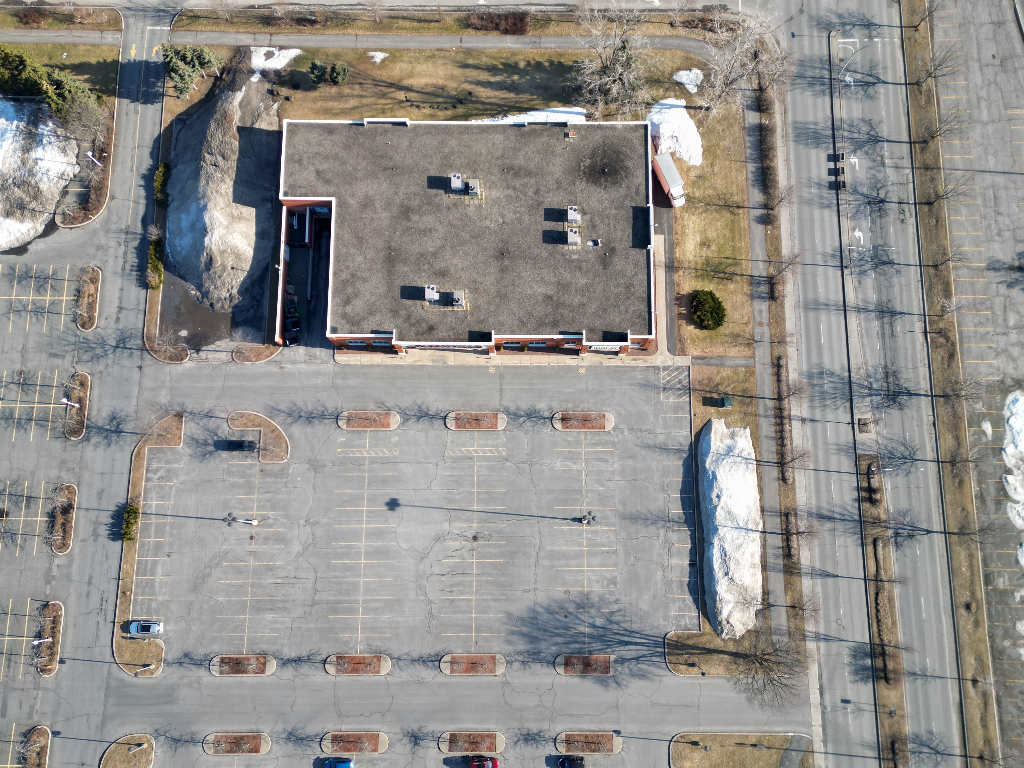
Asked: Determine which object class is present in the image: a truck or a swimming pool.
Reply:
truck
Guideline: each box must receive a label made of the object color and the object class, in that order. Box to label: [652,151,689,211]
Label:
white truck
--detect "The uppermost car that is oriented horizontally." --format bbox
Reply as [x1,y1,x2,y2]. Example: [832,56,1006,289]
[228,438,259,453]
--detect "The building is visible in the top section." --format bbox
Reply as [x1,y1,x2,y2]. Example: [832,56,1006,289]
[278,116,660,356]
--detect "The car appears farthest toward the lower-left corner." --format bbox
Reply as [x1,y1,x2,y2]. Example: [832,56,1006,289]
[129,620,164,637]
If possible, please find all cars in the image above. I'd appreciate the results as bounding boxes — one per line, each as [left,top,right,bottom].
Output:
[468,757,501,768]
[129,620,164,637]
[228,438,259,453]
[557,756,587,768]
[324,758,355,768]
